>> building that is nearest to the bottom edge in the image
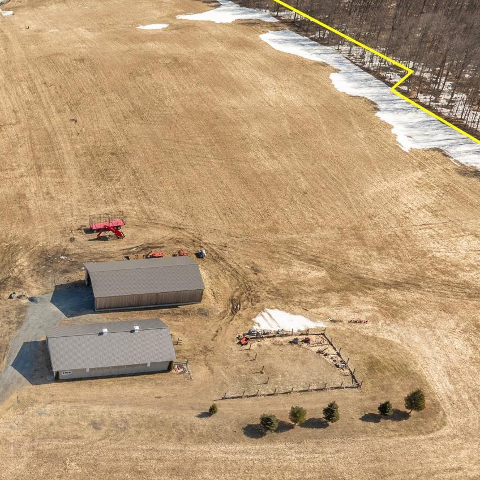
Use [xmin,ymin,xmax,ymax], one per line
[44,319,177,380]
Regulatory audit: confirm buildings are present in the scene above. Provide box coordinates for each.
[84,257,206,311]
[44,319,177,380]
